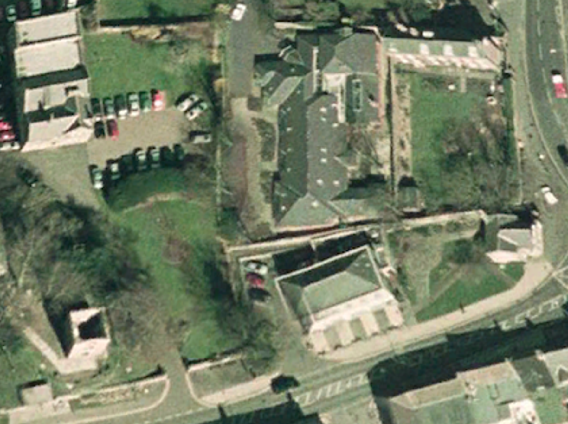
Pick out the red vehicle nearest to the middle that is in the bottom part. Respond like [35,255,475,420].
[244,273,266,286]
